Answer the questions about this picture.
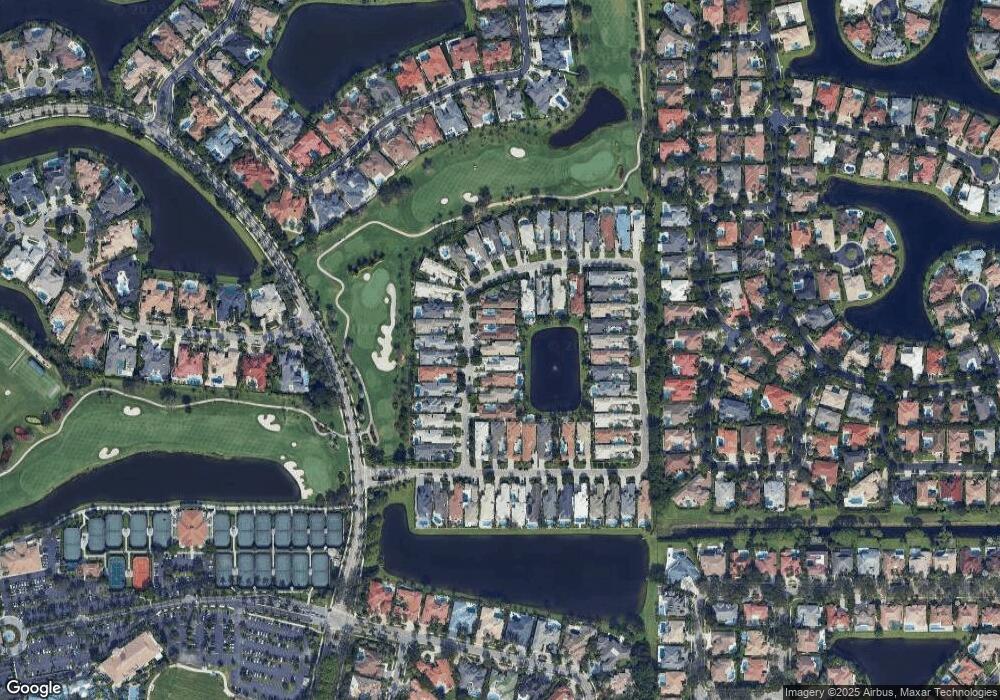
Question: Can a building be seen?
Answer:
Yes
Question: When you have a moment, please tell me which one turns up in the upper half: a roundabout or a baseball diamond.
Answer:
roundabout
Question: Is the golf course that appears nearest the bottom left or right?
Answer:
left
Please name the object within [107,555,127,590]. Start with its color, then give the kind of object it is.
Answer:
blue tennis court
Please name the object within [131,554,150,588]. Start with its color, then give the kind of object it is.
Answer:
red tennis court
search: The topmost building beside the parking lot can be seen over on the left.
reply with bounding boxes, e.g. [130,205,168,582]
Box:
[177,511,203,544]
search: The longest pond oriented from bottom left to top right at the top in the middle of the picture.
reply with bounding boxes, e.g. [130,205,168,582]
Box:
[550,86,627,148]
